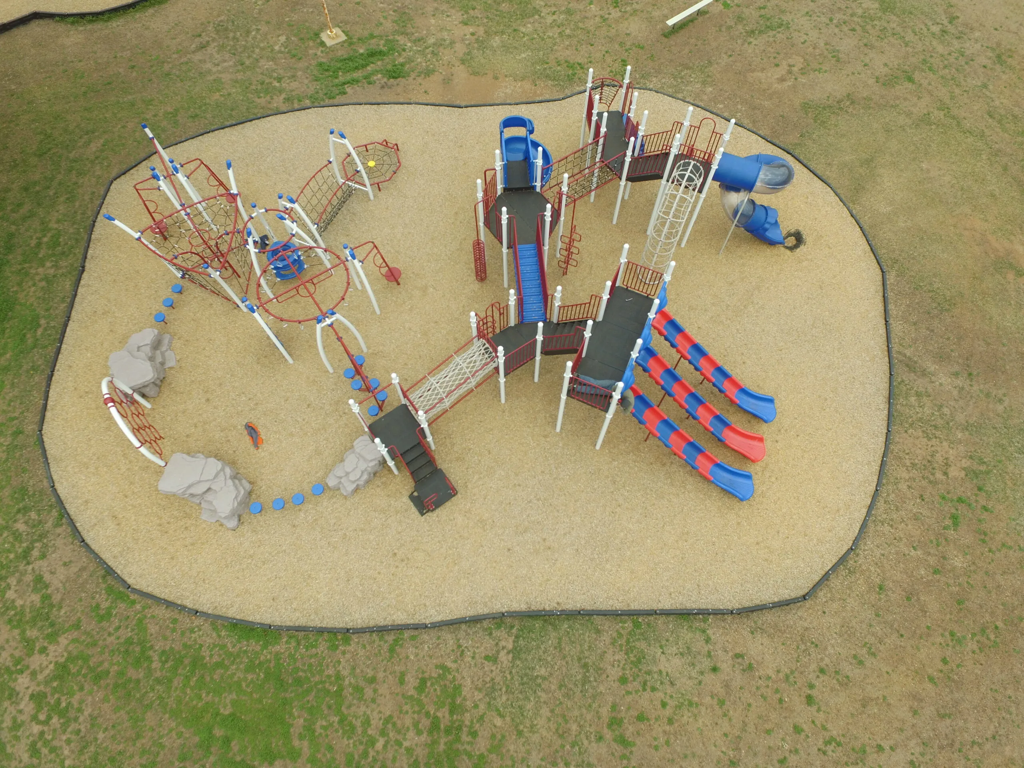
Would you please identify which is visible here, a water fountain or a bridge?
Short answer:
bridge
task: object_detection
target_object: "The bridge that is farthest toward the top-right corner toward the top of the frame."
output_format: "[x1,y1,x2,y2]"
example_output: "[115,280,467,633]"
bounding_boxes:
[539,135,626,213]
